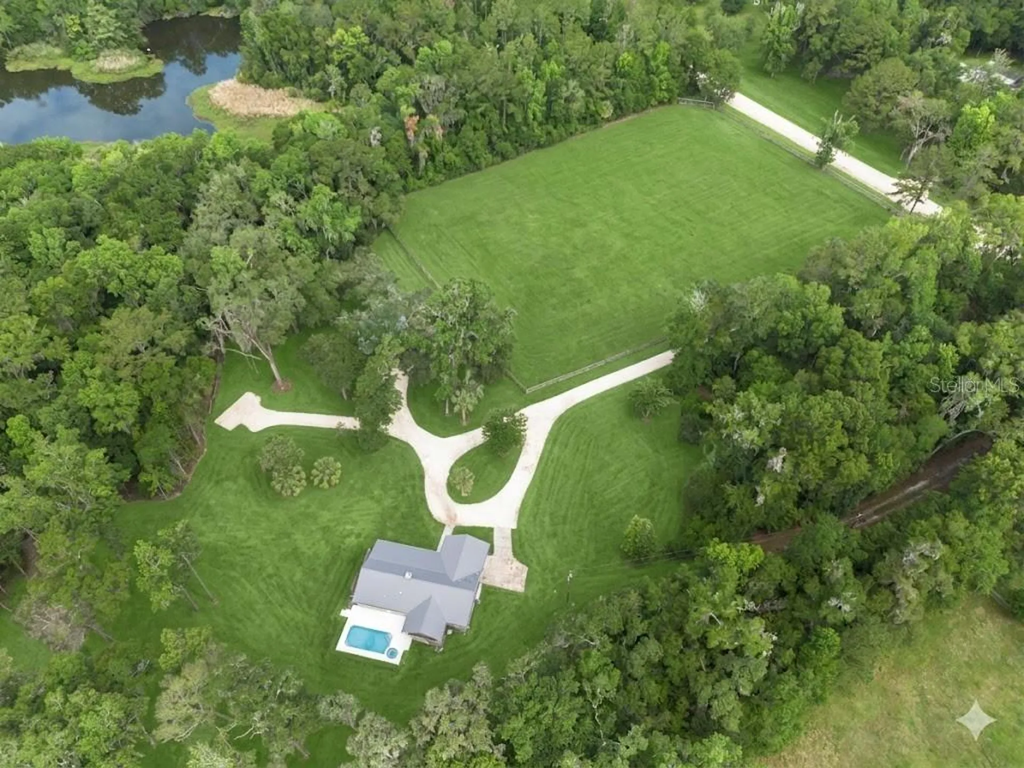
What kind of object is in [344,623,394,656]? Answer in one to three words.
swimming pool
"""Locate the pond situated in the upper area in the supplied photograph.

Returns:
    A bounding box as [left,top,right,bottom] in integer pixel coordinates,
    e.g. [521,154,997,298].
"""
[0,6,299,147]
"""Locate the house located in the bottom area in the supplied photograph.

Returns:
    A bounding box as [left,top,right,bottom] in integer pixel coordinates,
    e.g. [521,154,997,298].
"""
[352,535,490,647]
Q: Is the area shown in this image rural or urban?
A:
rural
